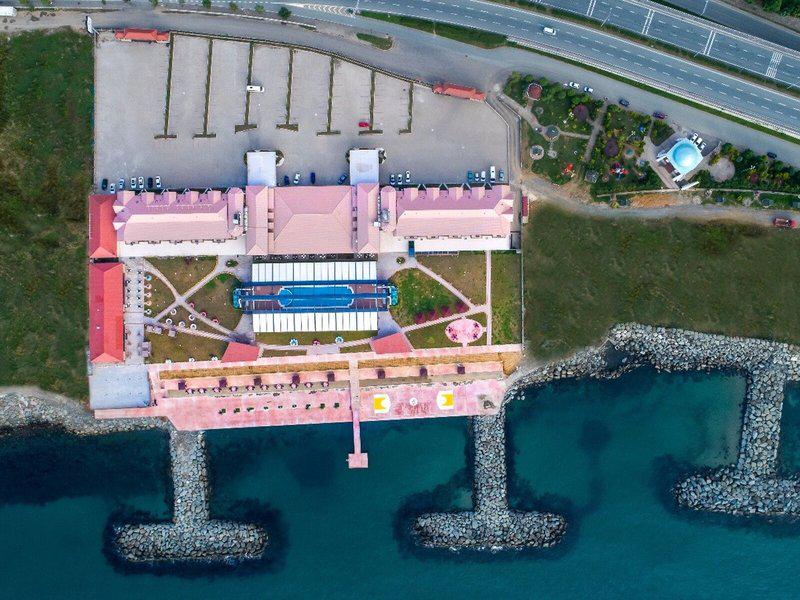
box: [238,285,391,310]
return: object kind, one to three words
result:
swimming pool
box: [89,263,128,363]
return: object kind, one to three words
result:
shed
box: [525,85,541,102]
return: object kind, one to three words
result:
gazebo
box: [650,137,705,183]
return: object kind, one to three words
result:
building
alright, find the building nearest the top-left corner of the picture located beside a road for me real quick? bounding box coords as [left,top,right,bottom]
[111,23,169,44]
